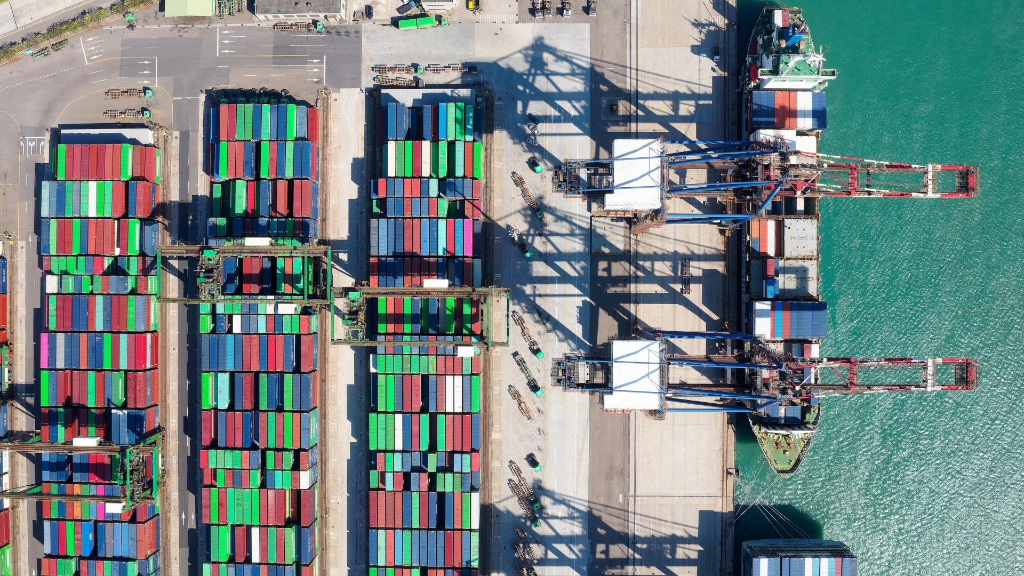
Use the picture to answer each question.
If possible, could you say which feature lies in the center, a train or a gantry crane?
gantry crane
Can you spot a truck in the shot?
Yes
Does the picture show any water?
Yes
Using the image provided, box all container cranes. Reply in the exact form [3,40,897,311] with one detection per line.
[552,135,981,241]
[157,236,327,314]
[332,277,509,356]
[0,424,161,512]
[552,318,981,422]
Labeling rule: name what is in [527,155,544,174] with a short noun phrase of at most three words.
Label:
work vehicle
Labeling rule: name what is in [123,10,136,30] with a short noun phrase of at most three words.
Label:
vehicle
